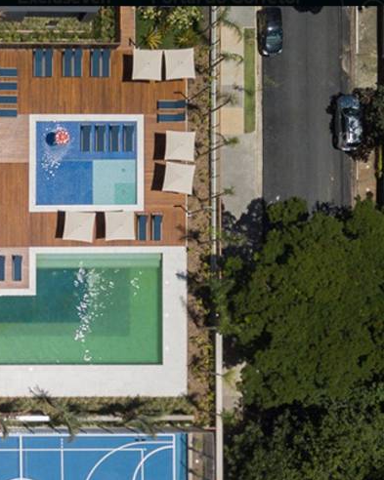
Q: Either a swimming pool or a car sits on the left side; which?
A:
swimming pool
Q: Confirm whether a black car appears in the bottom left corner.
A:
No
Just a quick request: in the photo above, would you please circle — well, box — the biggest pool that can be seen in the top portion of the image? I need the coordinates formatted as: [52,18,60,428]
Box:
[30,114,144,210]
